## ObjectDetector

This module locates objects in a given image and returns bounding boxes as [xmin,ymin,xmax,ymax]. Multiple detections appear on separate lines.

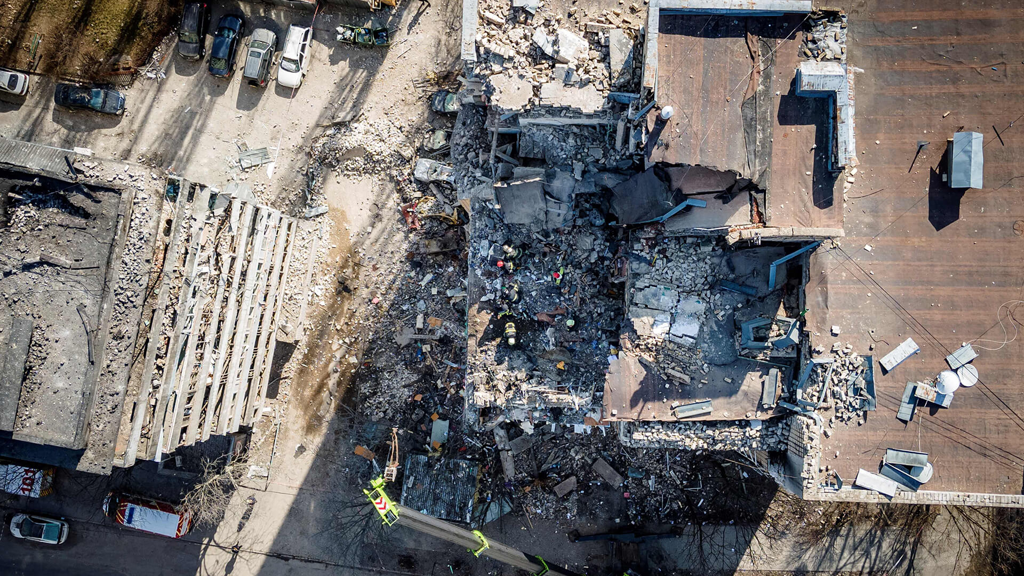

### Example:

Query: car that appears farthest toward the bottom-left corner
[9,511,73,543]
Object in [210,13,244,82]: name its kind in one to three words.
car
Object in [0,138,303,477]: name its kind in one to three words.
building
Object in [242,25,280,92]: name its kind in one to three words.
car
